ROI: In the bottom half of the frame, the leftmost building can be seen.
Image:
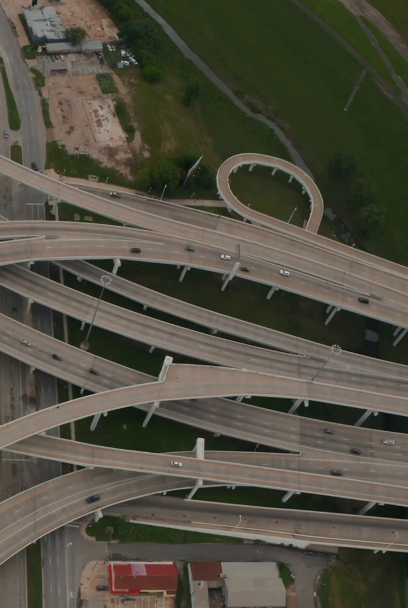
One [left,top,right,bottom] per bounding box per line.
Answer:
[105,561,178,597]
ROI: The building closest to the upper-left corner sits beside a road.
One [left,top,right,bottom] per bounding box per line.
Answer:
[21,0,66,46]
